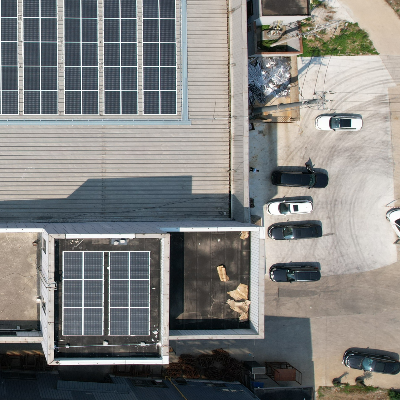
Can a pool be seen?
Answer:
No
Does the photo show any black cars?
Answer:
Yes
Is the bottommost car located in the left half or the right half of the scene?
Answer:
right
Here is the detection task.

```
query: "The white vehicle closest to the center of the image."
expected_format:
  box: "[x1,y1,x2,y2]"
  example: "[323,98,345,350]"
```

[265,199,314,217]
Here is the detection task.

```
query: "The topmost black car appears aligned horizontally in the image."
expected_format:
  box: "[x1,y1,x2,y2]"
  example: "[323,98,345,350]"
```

[270,160,328,187]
